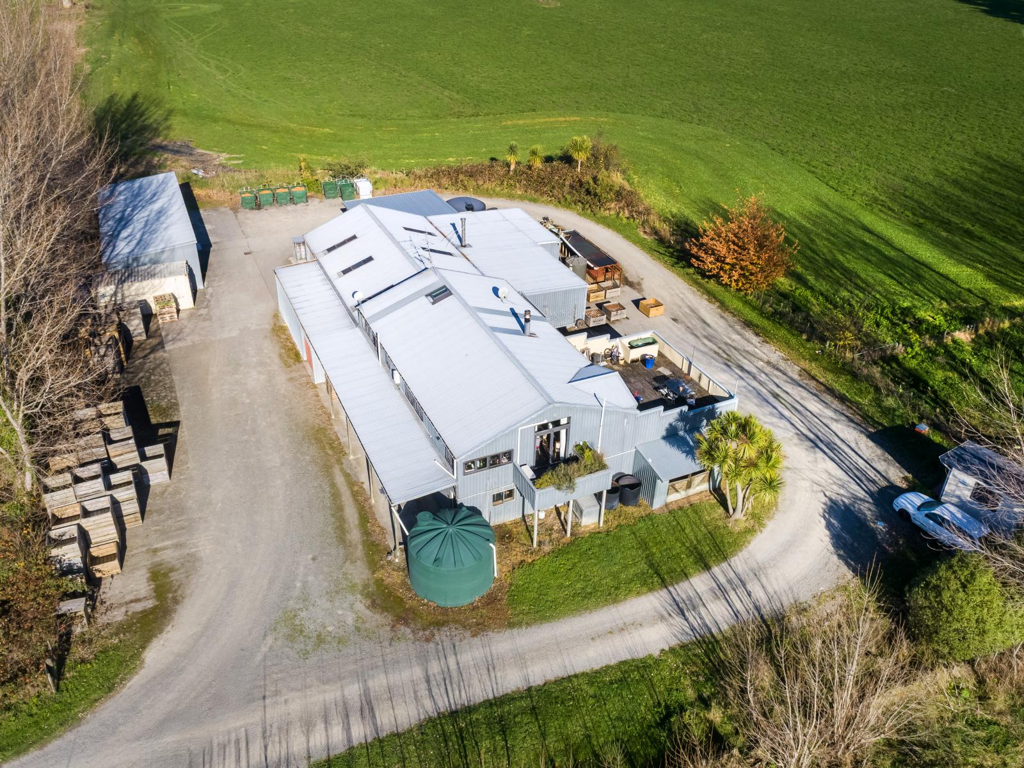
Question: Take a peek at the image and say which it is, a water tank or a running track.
water tank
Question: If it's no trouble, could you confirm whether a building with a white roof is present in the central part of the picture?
Yes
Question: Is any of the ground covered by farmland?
Yes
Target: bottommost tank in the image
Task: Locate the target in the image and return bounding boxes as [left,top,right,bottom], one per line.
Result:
[407,503,497,605]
